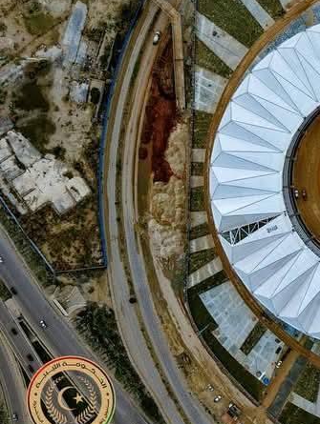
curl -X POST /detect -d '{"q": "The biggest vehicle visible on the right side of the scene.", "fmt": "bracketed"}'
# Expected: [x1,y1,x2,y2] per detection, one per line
[226,403,241,418]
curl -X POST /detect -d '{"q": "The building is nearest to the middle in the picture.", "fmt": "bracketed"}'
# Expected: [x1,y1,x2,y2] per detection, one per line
[68,176,94,203]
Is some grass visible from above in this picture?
Yes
